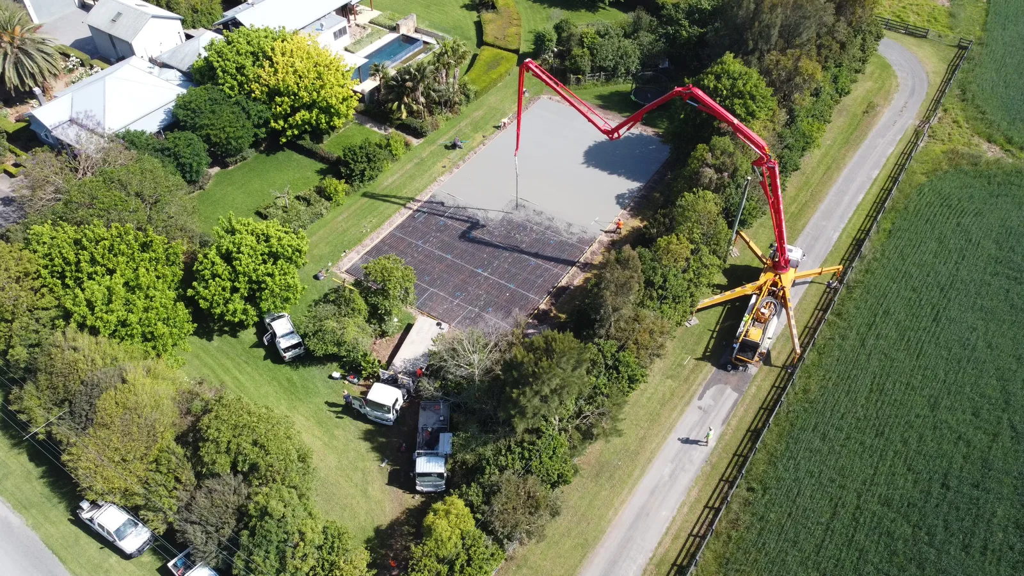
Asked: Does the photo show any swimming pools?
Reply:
Yes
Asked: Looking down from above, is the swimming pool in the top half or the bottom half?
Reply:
top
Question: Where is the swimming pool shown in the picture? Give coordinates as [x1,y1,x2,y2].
[347,30,439,84]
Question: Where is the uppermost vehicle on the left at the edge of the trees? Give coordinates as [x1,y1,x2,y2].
[255,306,306,361]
